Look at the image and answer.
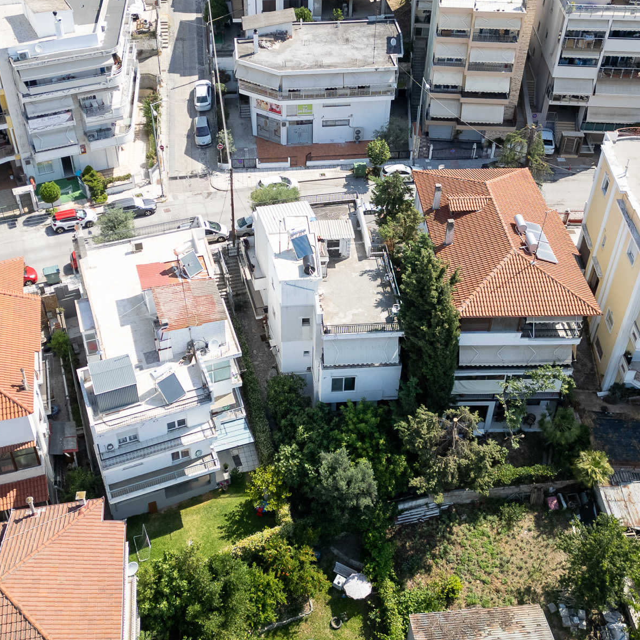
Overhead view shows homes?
Yes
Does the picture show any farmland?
No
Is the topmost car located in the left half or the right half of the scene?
left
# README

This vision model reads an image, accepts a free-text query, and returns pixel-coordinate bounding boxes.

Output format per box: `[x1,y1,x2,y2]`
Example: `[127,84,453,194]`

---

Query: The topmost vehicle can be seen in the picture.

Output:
[192,86,212,111]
